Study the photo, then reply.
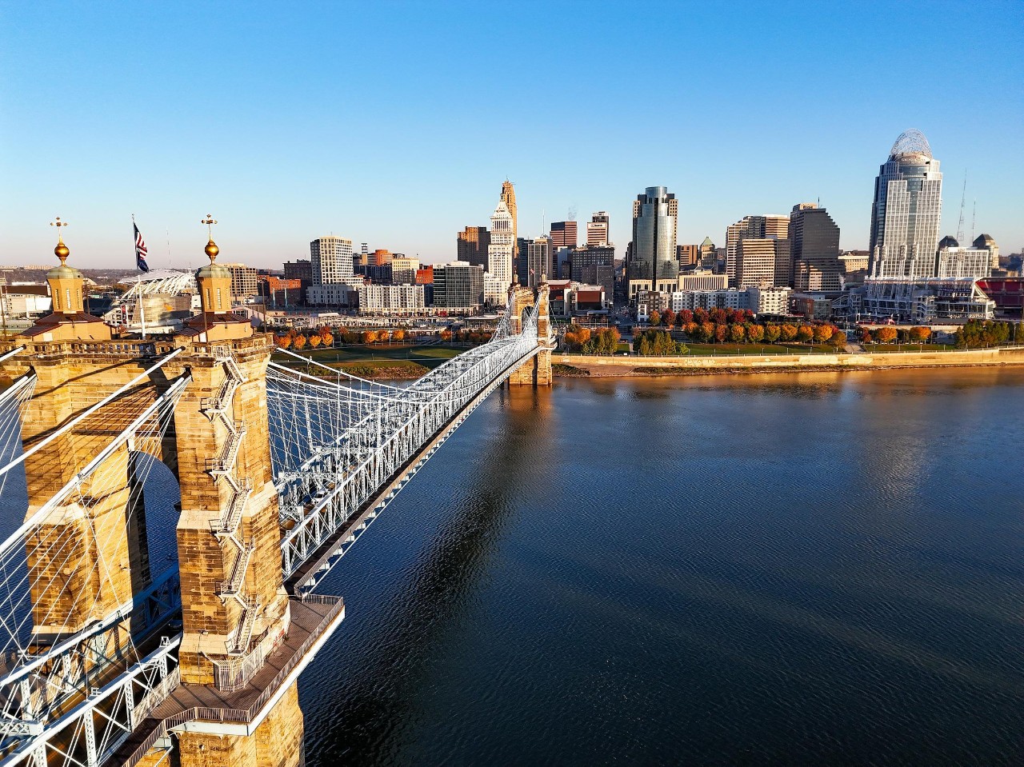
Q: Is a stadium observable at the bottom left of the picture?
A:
No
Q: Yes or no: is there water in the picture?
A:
Yes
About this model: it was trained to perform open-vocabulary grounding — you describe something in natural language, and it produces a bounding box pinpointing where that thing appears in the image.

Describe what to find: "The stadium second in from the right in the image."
[91,269,201,323]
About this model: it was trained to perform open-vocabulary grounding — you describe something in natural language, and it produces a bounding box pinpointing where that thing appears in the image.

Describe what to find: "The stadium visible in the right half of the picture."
[856,248,1024,330]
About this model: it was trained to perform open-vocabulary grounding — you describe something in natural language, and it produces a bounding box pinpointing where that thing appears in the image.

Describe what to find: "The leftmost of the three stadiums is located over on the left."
[0,281,53,319]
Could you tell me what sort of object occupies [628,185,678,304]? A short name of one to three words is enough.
building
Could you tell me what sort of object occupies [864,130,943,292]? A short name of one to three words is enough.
building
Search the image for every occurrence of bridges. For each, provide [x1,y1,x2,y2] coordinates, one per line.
[0,213,556,767]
